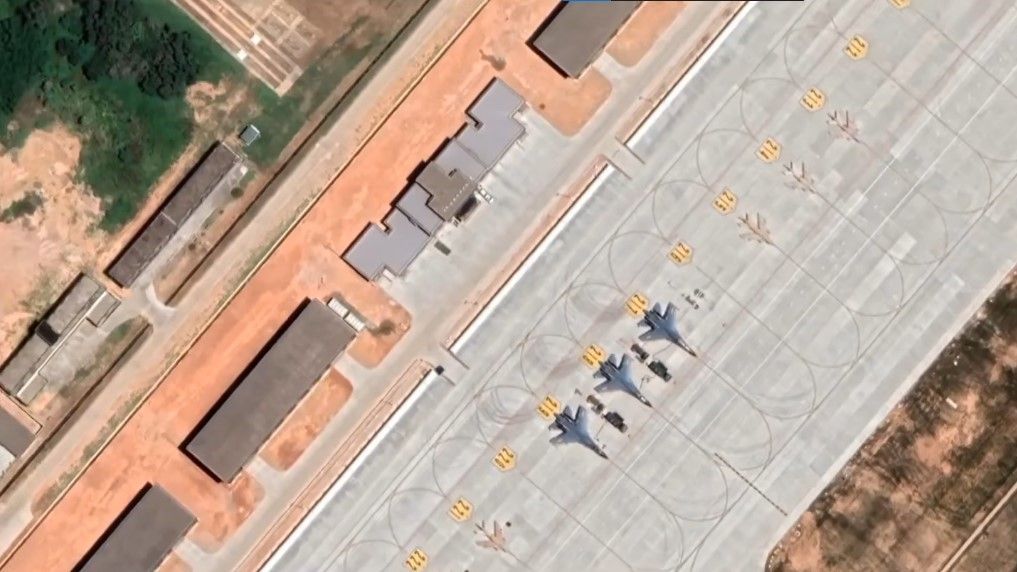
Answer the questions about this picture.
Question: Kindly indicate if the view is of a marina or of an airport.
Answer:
airport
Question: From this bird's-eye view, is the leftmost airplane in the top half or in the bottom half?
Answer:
bottom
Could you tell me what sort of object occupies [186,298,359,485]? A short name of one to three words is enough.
hangar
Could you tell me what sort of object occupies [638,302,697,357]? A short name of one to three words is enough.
airplane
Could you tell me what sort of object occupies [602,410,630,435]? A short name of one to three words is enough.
truck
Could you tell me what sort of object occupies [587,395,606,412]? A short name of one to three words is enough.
vehicle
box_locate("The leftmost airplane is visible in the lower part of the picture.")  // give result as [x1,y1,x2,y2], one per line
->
[471,517,508,551]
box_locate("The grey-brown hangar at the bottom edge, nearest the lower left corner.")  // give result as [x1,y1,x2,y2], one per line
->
[79,483,200,572]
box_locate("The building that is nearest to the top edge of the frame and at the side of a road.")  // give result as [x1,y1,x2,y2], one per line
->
[533,0,645,80]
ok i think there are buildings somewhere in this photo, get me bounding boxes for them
[0,274,120,405]
[345,312,365,332]
[0,447,16,480]
[343,78,525,281]
[108,143,247,287]
[240,124,260,145]
[186,298,359,485]
[0,407,36,456]
[533,0,645,80]
[328,298,348,317]
[79,483,200,572]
